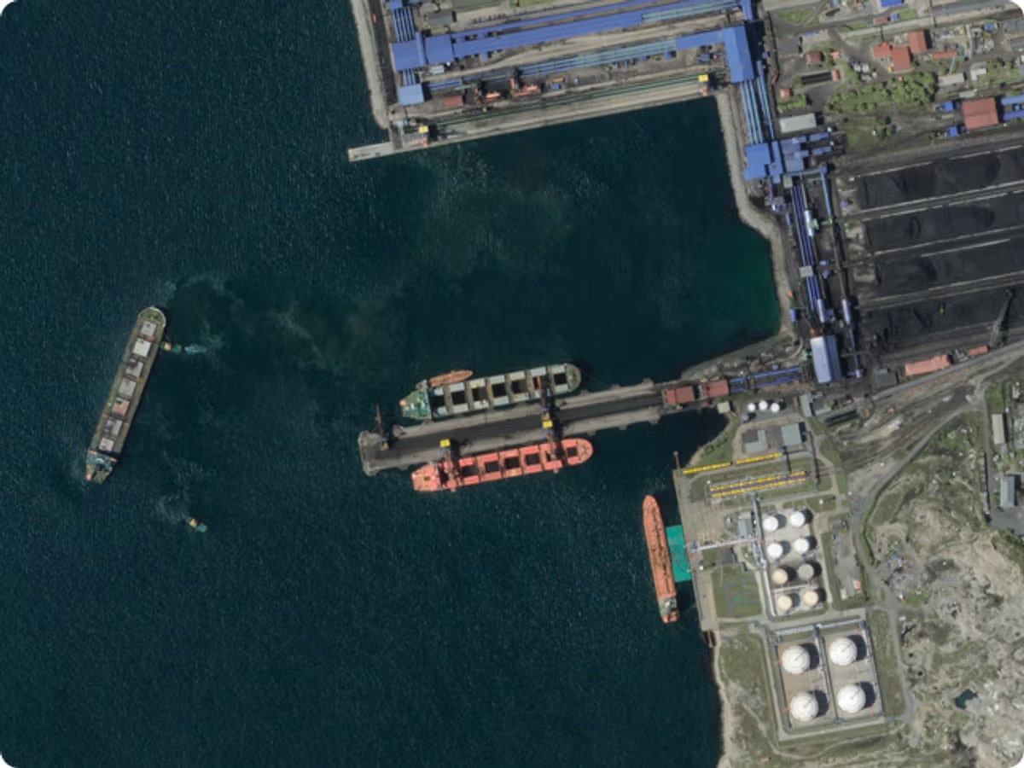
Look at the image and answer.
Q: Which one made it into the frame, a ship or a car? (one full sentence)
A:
The image shows a ship.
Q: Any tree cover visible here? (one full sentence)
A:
No, there's no tree cover in this view.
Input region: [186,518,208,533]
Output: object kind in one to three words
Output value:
boat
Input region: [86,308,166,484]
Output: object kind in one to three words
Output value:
ship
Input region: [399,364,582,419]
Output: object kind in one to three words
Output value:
ship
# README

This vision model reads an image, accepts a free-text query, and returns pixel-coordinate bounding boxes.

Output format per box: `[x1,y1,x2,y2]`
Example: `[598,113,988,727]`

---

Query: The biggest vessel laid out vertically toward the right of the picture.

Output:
[645,495,679,624]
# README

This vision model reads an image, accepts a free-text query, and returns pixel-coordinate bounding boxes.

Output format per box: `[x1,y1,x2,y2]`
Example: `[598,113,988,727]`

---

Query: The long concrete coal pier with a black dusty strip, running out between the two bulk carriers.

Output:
[358,376,725,475]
